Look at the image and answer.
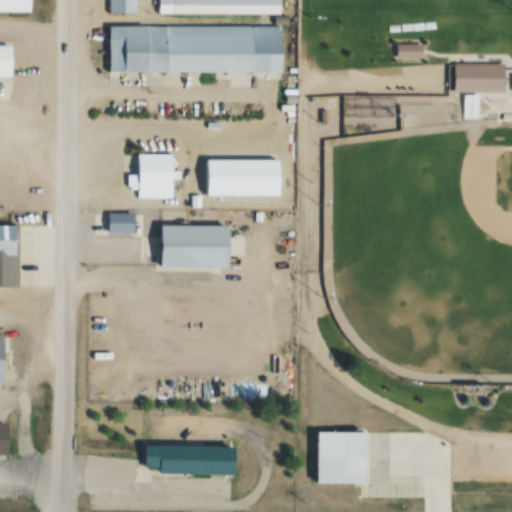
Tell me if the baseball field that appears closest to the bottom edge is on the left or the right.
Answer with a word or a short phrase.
right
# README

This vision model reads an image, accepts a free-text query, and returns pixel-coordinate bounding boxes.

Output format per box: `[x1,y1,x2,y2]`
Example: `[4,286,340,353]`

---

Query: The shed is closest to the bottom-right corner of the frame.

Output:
[316,429,368,486]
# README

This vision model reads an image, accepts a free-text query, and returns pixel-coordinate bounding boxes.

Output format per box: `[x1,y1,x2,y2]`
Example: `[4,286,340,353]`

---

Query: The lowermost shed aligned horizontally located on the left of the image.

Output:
[145,442,237,474]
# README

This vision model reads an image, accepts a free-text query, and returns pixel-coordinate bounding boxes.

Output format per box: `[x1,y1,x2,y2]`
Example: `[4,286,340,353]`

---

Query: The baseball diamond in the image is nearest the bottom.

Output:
[323,121,512,383]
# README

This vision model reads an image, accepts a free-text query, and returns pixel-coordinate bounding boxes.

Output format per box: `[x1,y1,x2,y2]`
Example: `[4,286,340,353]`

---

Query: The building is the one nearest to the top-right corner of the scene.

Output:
[454,64,507,92]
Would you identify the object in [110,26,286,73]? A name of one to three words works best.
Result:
shed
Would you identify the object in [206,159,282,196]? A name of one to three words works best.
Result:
shed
